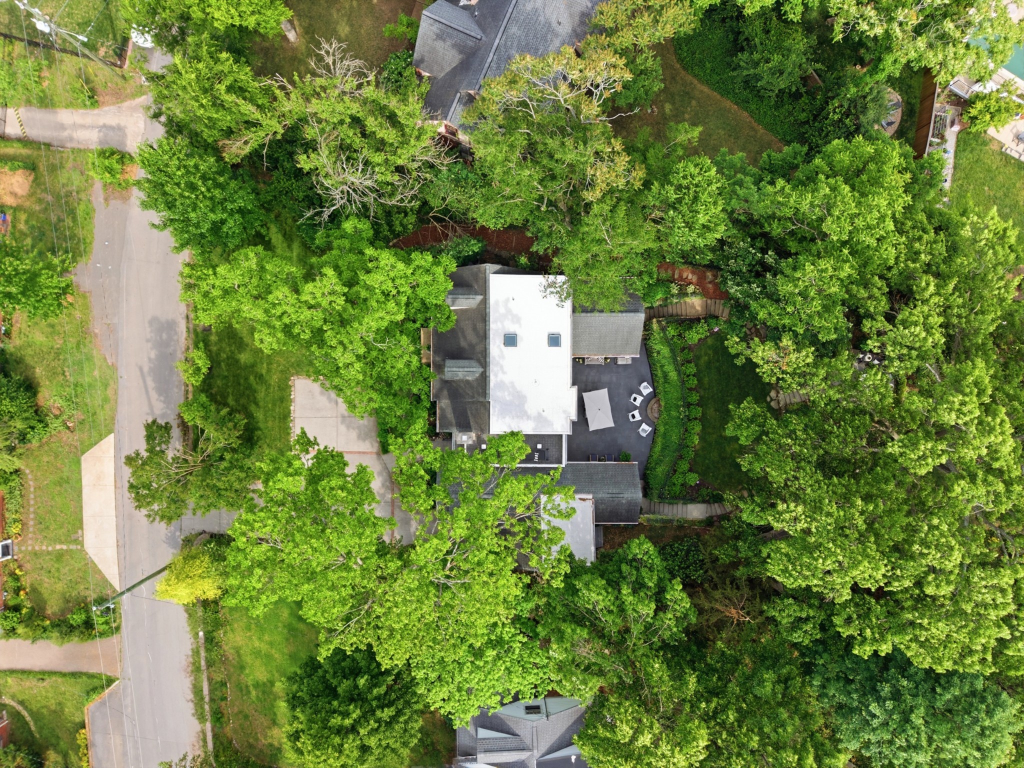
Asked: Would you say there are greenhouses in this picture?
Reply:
No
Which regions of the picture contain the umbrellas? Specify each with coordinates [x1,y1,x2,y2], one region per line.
[582,388,614,431]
